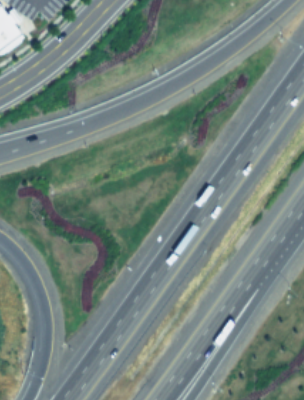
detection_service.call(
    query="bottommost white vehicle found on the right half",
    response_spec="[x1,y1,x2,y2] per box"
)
[216,318,236,345]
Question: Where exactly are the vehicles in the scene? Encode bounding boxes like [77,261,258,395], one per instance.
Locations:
[212,206,222,219]
[170,226,200,264]
[204,347,214,358]
[290,96,300,108]
[57,30,67,40]
[243,166,252,177]
[26,135,38,142]
[110,346,120,356]
[216,318,236,345]
[196,186,216,210]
